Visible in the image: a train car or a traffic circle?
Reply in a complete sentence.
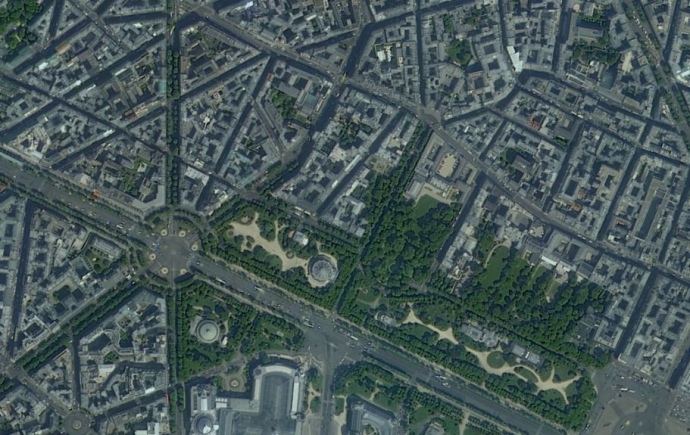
This aerial view contains a traffic circle.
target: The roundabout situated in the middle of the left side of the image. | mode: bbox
[139,219,206,286]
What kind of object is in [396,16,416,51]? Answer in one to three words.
building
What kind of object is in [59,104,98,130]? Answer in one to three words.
building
